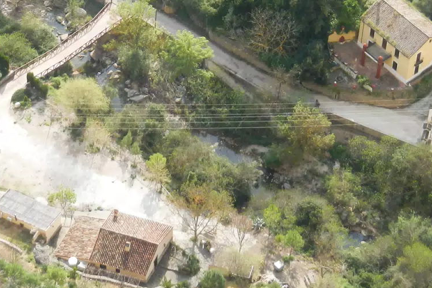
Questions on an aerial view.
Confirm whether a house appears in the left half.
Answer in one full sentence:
Yes, you'll find a house in the left half.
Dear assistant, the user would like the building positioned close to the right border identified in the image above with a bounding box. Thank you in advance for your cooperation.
[349,0,432,83]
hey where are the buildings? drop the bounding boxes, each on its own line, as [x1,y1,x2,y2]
[349,0,432,83]
[54,208,172,288]
[0,185,64,254]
